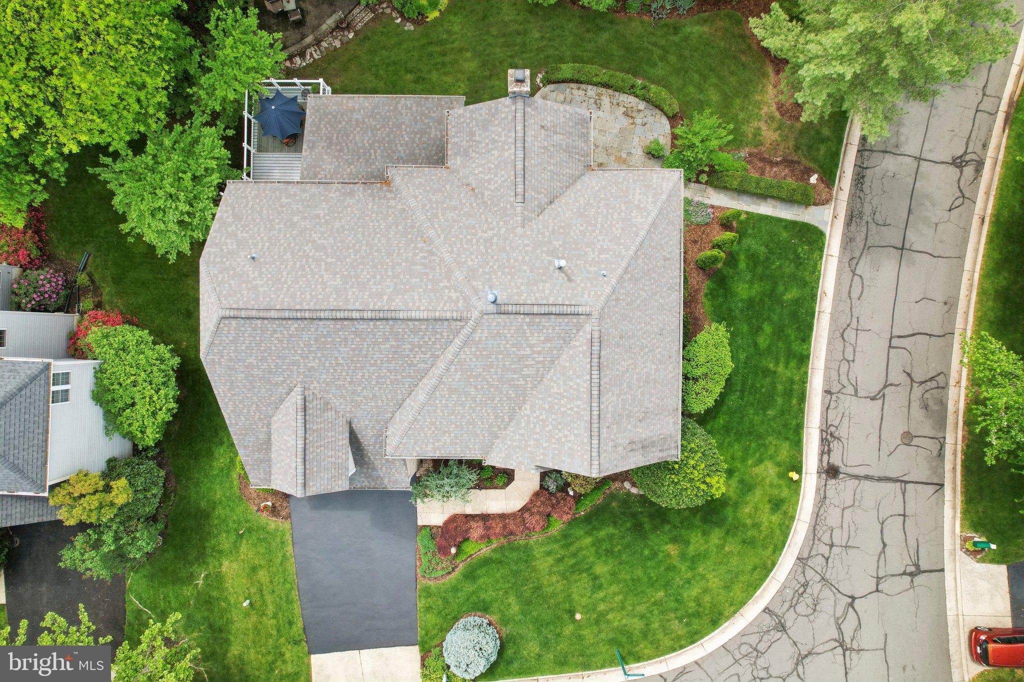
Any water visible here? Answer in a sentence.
No, the picture contains no water.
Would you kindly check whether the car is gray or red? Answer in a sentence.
The color of the car is red.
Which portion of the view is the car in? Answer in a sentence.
Look in the bottom right portion of the view to spot the car.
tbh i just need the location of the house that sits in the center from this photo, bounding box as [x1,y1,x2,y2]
[198,65,686,498]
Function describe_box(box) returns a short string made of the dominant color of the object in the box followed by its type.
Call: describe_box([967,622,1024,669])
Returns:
red car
